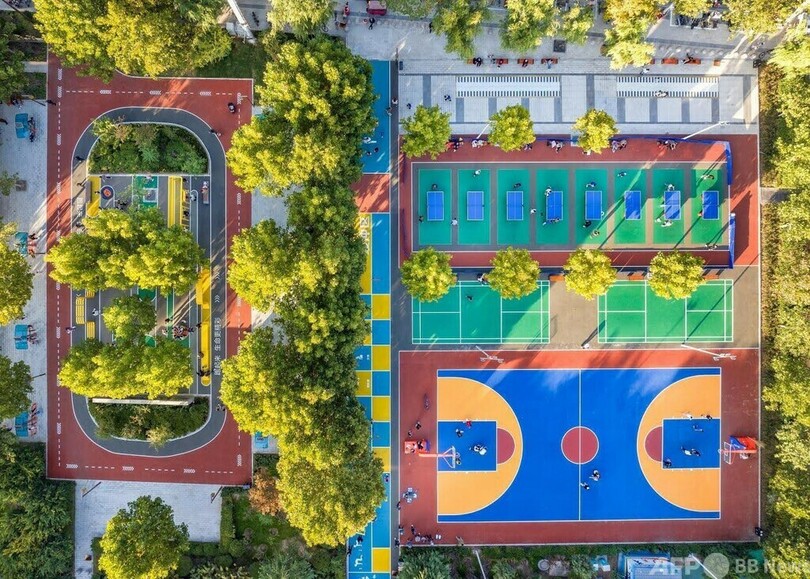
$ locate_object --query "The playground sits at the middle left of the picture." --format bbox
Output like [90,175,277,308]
[85,174,210,396]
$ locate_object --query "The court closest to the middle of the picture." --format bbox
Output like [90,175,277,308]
[412,281,551,344]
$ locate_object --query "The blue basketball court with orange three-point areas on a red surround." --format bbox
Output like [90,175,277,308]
[391,348,758,547]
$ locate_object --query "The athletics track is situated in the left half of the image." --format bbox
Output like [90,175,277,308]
[47,44,253,489]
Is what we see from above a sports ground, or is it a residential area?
sports ground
